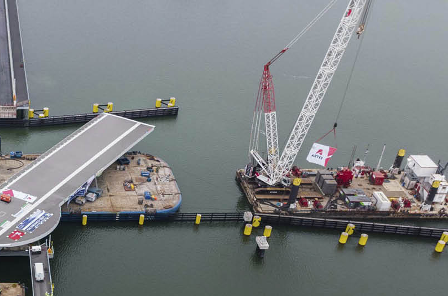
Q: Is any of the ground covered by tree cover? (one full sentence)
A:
No, the picture contains no tree cover.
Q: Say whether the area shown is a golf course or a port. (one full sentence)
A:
This image shows a port.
